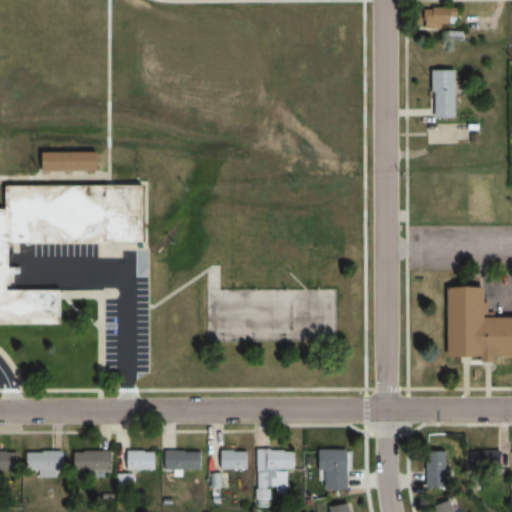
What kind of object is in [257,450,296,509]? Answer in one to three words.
house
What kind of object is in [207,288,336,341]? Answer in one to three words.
sports court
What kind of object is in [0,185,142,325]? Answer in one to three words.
building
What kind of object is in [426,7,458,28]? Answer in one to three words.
house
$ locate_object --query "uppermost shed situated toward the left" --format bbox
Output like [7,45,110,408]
[42,151,97,172]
